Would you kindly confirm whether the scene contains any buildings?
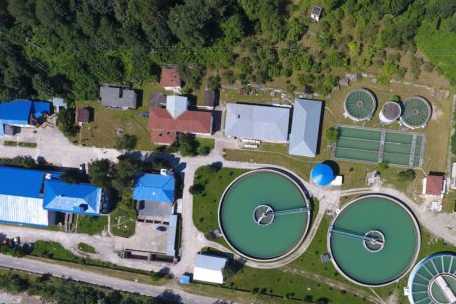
Yes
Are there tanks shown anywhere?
Yes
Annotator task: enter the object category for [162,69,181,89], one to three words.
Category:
house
